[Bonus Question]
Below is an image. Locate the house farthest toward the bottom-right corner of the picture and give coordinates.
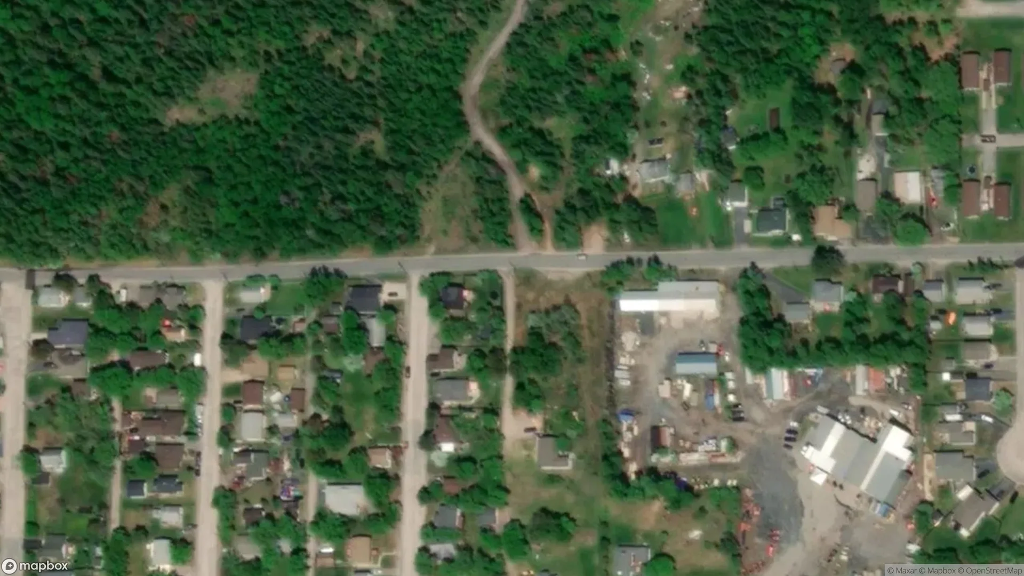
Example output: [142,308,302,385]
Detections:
[954,486,1001,531]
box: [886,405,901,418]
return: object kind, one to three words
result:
vehicle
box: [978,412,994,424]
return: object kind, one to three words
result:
vehicle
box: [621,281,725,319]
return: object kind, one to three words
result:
building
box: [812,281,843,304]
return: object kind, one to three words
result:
house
